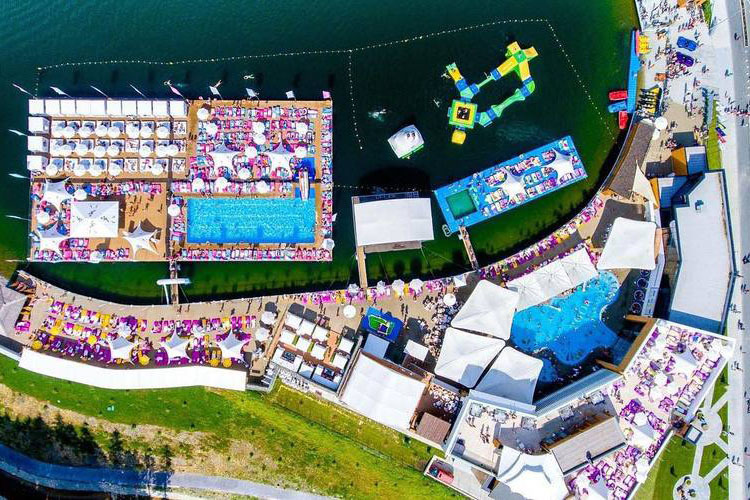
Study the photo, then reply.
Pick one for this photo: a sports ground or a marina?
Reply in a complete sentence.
The picture captures a marina.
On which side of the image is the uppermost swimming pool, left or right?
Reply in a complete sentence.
The uppermost swimming pool appears in the left half of the scene.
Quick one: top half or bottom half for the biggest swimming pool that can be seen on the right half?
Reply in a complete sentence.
It is in the bottom half that the biggest swimming pool that can be seen on the right half appears.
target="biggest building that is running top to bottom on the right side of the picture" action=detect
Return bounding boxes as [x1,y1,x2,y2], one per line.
[667,170,736,332]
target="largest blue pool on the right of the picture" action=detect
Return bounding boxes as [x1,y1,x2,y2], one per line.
[511,269,621,383]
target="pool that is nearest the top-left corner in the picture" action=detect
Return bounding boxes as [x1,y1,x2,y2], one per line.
[187,198,317,243]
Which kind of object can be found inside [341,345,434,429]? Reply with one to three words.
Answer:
building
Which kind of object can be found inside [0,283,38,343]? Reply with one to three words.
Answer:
tent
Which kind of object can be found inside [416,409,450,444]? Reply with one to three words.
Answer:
shed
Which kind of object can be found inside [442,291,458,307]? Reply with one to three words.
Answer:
umbrella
